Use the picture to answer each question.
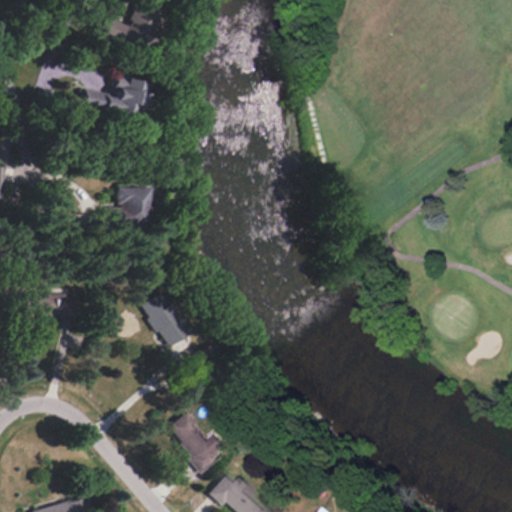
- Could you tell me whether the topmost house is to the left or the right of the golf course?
left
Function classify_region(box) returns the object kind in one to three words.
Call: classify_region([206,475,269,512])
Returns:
house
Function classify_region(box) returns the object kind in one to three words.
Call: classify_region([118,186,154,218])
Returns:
house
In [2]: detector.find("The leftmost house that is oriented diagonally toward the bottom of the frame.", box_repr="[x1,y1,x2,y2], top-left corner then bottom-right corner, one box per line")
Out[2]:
[140,298,192,352]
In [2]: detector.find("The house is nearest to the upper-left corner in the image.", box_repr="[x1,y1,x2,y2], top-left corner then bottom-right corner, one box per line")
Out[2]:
[110,12,150,38]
